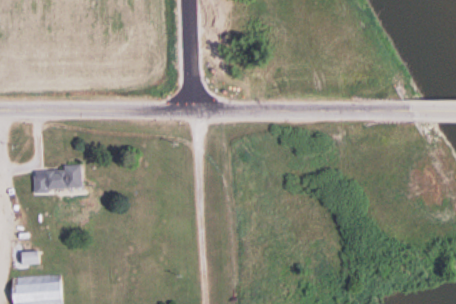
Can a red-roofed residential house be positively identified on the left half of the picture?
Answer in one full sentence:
No, I can find no red-roofed residential house on the left half of the picture.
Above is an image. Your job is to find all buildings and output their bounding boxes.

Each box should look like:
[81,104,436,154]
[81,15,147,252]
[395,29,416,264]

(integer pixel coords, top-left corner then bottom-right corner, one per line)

[20,251,40,266]
[12,276,62,304]
[32,164,89,201]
